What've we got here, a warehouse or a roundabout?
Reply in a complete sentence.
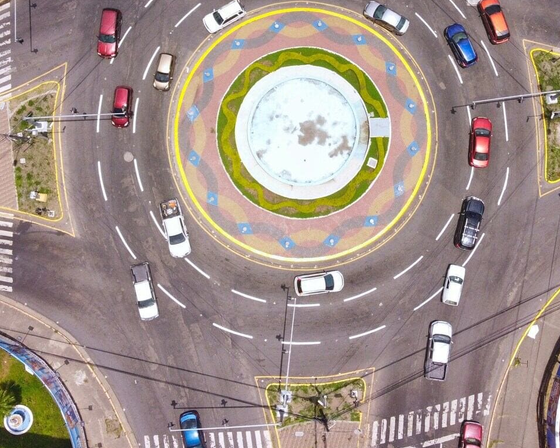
This aerial view contains a roundabout.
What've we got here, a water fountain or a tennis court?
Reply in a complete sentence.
Looking from above, you can make out a water fountain.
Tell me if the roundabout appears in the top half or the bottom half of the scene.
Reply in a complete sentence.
You can find the roundabout in the top half.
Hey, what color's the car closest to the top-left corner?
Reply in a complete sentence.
The car closest to the top-left corner is red.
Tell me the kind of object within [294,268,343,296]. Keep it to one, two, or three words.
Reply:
car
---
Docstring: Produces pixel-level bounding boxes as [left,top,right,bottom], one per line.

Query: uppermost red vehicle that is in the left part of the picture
[95,7,123,58]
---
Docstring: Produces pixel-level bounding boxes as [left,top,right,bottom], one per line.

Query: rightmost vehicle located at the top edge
[477,0,513,45]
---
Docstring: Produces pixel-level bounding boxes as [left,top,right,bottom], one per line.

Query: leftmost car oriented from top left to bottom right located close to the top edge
[363,0,412,36]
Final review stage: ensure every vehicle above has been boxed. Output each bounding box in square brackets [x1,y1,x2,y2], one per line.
[95,7,123,58]
[441,264,467,306]
[454,196,485,250]
[469,117,494,168]
[459,420,486,448]
[294,268,343,296]
[203,0,247,32]
[151,52,176,92]
[129,262,160,320]
[443,21,480,70]
[426,320,454,382]
[363,0,412,36]
[159,198,190,257]
[109,85,134,128]
[477,0,513,45]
